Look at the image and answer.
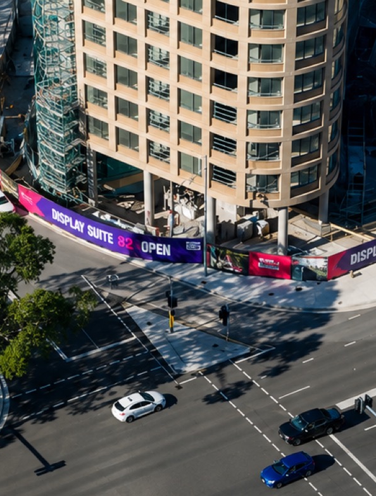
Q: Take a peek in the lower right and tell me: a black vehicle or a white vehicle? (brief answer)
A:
black vehicle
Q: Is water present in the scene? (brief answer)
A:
No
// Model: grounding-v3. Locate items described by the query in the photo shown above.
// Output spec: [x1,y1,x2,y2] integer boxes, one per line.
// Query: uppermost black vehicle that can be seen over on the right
[279,402,349,447]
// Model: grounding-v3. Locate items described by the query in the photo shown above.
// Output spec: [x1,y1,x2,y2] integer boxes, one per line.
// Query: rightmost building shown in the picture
[72,0,357,255]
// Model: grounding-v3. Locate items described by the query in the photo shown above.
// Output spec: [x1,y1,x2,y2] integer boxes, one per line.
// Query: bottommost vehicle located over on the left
[110,389,170,424]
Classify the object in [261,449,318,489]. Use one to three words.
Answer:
car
